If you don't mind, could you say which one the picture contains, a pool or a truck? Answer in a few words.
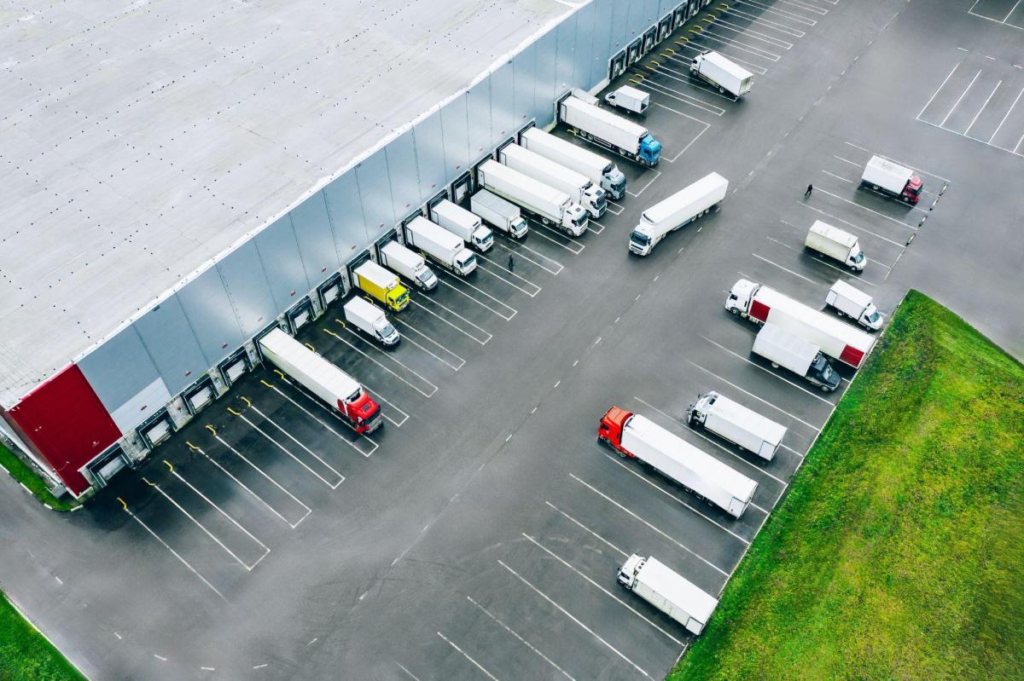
truck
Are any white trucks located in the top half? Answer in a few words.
Yes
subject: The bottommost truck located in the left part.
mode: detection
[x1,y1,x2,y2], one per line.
[258,326,386,432]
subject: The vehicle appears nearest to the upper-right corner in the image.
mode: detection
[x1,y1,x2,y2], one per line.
[860,155,925,203]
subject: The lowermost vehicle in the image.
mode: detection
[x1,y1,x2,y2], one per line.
[613,550,719,636]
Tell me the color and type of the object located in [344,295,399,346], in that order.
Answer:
white van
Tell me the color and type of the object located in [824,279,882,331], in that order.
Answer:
white van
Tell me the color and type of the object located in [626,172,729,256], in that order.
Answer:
white truck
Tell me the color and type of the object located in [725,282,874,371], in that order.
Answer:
white truck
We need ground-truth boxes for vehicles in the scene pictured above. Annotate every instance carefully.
[560,96,665,165]
[750,321,839,391]
[406,216,479,276]
[803,220,865,272]
[725,282,874,371]
[352,259,413,313]
[478,159,590,235]
[522,125,630,197]
[688,394,787,463]
[344,295,399,346]
[258,326,386,432]
[690,52,753,100]
[431,198,496,252]
[613,550,719,636]
[605,85,650,117]
[598,408,757,520]
[470,189,531,240]
[824,279,882,331]
[379,240,438,292]
[626,172,729,256]
[860,155,925,203]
